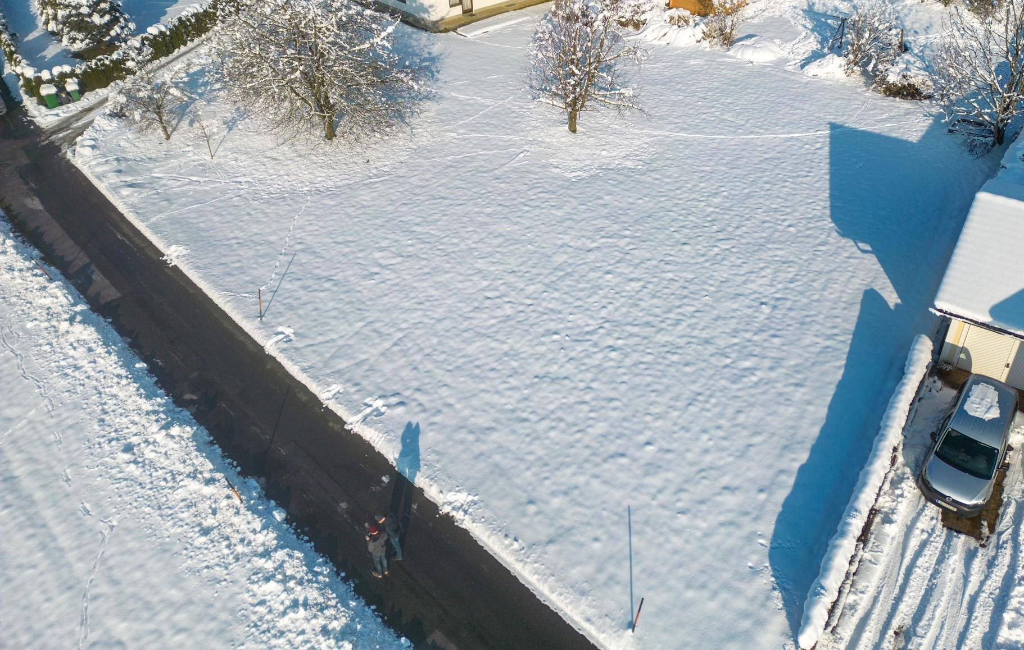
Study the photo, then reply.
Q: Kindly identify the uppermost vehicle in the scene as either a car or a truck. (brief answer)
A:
car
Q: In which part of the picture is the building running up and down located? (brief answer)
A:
right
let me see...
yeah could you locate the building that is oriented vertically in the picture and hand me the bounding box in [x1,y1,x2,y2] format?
[926,181,1024,393]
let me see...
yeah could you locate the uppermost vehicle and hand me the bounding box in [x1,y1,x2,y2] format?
[915,377,1019,519]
